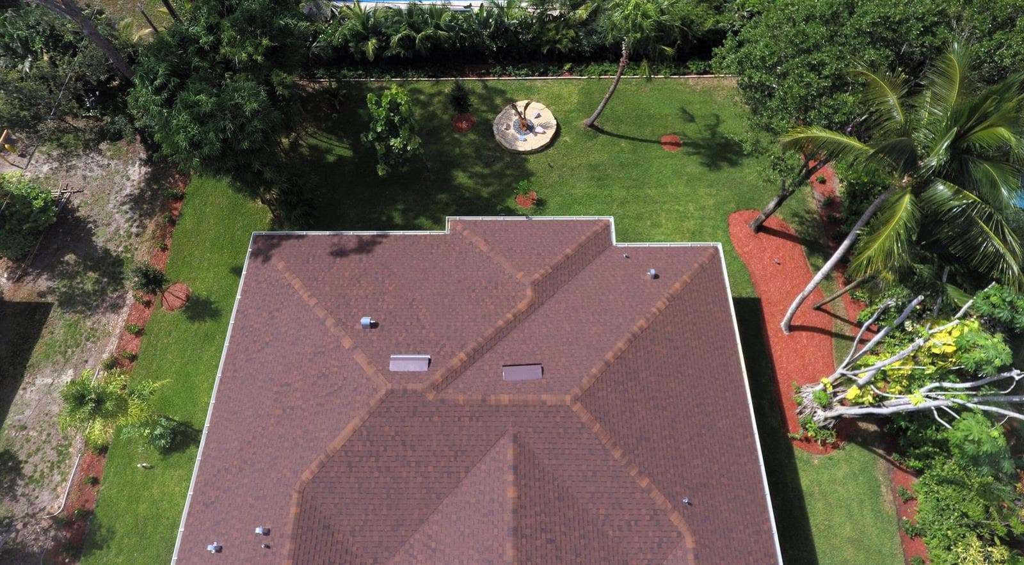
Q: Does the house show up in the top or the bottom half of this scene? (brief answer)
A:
bottom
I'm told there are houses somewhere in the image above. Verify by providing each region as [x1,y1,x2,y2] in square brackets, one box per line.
[168,214,788,565]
